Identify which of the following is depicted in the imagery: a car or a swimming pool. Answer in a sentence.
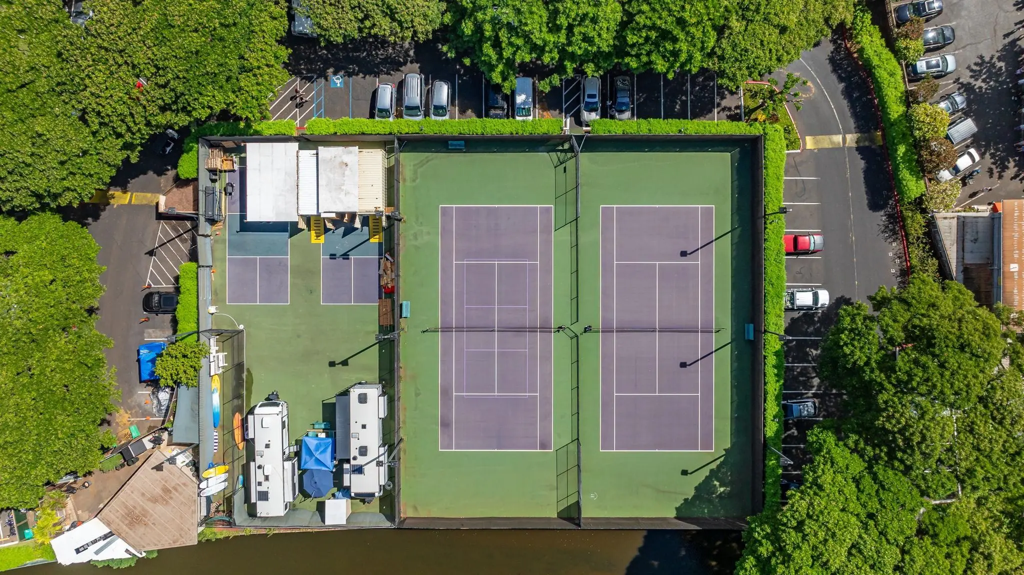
Looking from above, you can make out a car.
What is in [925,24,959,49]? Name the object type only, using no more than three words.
car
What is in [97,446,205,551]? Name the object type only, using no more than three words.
building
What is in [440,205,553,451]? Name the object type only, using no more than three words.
tennis court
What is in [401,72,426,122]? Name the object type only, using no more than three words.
vehicle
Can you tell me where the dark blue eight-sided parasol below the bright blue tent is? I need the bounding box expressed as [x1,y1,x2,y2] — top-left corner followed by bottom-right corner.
[303,469,333,497]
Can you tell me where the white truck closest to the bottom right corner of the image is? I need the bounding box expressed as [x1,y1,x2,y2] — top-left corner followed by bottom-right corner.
[781,286,829,311]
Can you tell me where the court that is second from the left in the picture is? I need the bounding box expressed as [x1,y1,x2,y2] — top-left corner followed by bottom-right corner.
[321,212,383,304]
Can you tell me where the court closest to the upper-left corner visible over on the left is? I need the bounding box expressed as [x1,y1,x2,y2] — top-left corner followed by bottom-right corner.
[227,166,289,304]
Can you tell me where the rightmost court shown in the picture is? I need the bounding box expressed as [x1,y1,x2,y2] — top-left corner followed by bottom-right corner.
[600,205,714,451]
